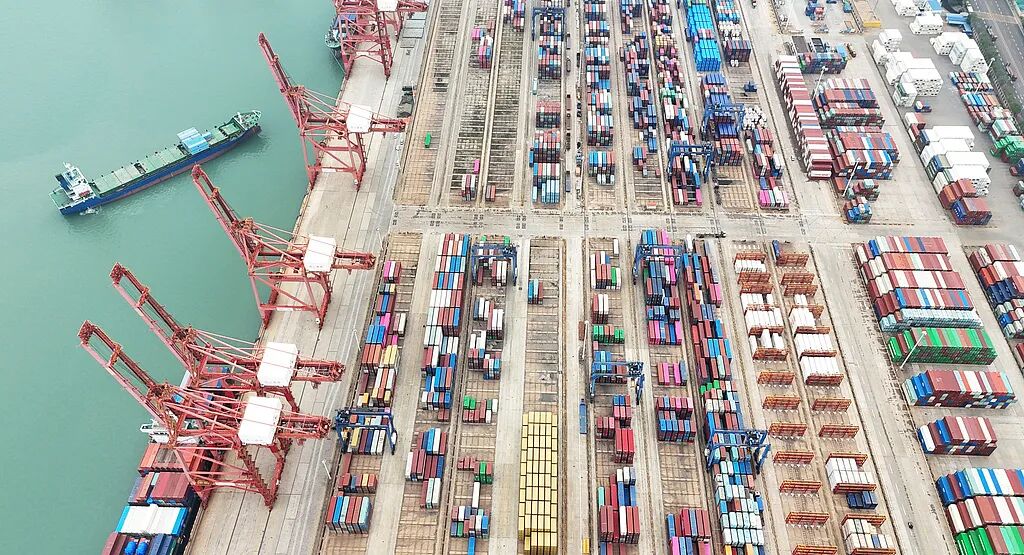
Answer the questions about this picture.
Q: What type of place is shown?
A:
port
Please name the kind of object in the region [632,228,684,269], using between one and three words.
container crane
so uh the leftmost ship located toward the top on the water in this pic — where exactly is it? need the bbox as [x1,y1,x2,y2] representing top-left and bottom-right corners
[52,110,265,217]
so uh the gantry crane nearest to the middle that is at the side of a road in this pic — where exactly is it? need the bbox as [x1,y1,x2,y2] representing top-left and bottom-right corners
[470,242,516,283]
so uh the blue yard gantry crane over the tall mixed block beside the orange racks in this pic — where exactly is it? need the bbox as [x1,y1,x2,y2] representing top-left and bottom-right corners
[702,426,770,472]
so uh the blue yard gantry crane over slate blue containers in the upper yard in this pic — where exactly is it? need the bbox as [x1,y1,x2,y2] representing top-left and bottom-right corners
[698,92,743,129]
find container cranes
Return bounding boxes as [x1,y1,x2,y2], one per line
[192,163,378,331]
[260,31,409,192]
[533,6,565,40]
[589,358,644,402]
[632,228,684,269]
[698,92,743,129]
[332,407,396,453]
[470,242,516,283]
[355,4,405,42]
[75,322,331,513]
[702,426,770,472]
[110,260,345,455]
[666,139,712,178]
[330,0,432,80]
